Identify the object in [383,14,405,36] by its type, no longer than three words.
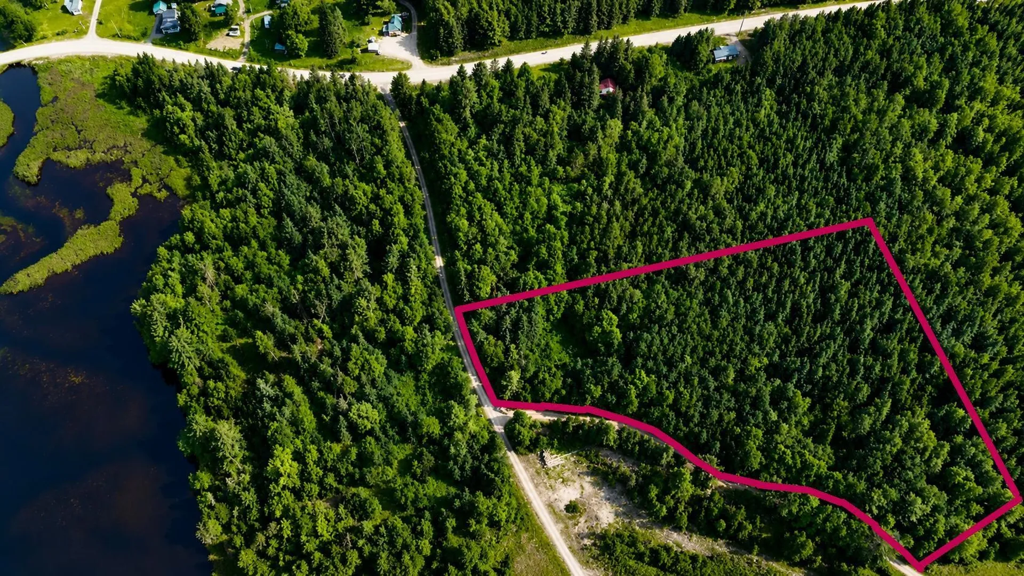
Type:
house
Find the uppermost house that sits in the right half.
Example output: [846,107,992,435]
[709,45,741,62]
